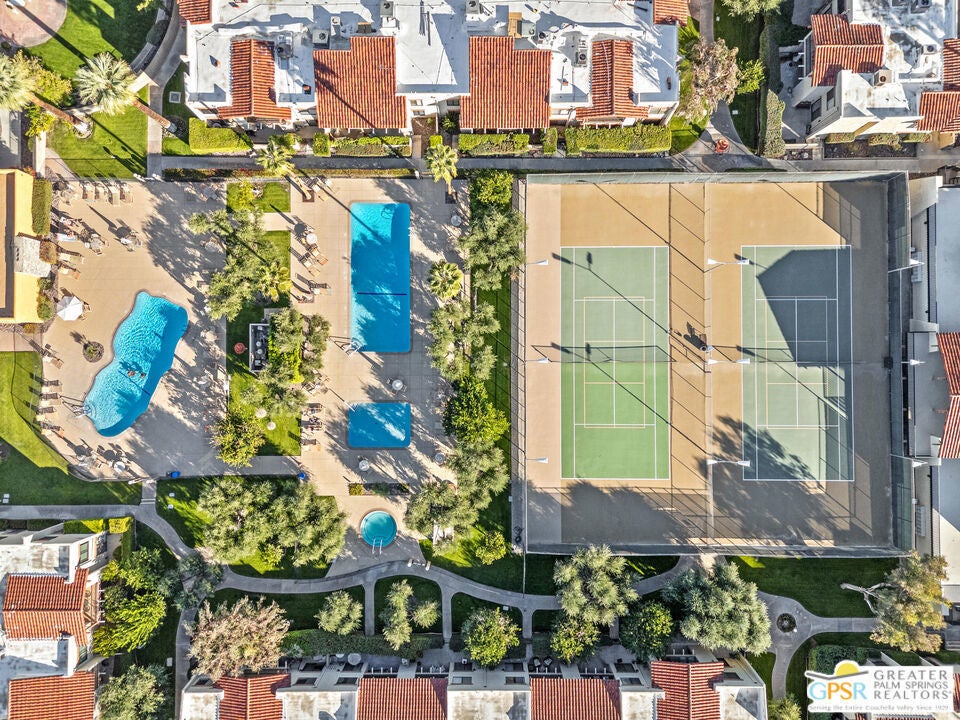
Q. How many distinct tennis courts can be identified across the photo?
2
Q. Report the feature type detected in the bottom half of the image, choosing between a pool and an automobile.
pool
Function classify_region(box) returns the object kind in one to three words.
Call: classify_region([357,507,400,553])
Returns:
swimming pool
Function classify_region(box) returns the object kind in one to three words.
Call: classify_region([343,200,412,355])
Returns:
swimming pool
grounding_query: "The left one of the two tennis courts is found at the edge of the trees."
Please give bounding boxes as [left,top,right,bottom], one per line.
[548,246,681,480]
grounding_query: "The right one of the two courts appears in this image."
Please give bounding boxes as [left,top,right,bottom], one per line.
[733,246,869,481]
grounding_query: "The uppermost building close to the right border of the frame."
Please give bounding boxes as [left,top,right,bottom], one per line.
[785,0,960,158]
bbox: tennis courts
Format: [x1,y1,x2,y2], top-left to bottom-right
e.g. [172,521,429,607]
[733,246,869,481]
[548,246,681,480]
